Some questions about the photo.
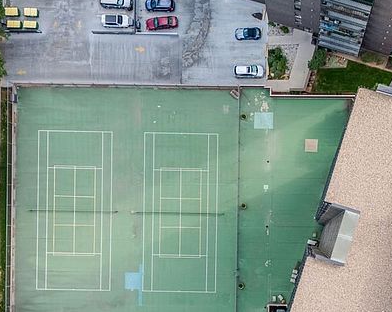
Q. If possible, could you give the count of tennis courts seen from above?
2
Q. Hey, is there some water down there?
No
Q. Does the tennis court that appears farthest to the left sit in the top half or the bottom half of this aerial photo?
bottom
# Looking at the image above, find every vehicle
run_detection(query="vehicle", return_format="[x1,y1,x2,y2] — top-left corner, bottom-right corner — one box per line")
[101,12,132,28]
[234,25,262,40]
[233,62,264,78]
[146,15,179,30]
[144,0,175,12]
[100,0,132,10]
